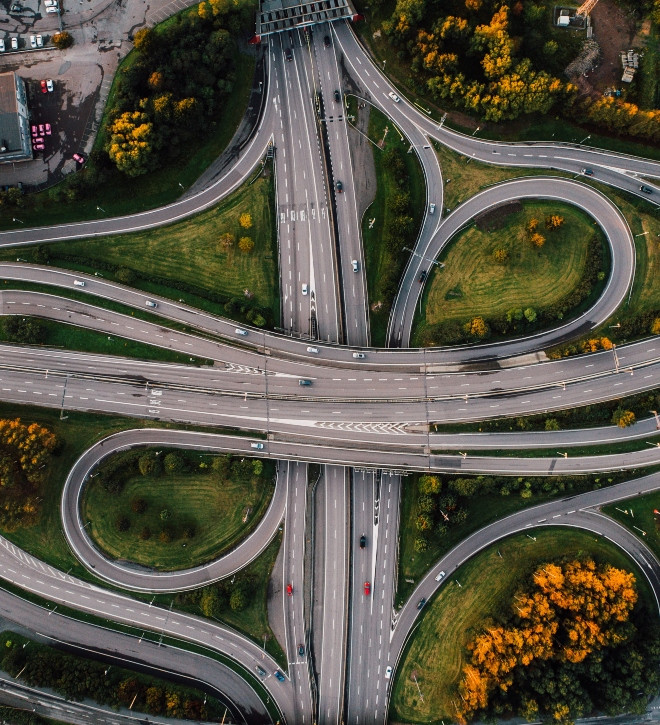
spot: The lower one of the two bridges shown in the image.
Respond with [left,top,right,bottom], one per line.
[258,331,433,474]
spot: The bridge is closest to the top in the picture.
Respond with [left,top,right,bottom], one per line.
[246,0,363,49]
